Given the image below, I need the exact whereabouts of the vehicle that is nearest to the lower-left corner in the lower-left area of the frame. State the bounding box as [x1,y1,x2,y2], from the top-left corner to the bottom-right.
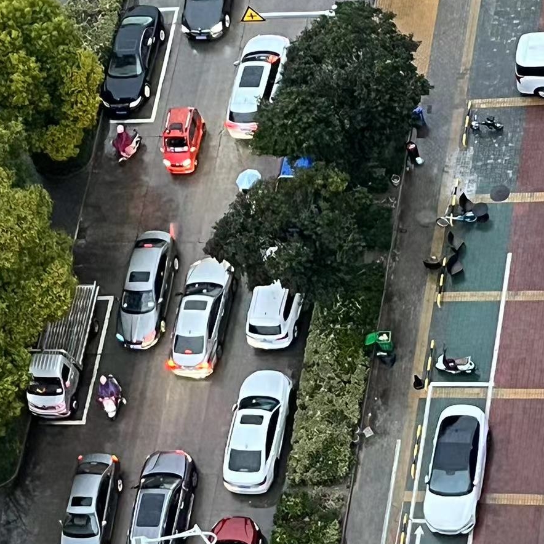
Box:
[54,455,126,544]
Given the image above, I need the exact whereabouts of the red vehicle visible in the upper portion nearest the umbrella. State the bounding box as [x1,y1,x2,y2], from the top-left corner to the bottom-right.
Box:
[157,100,209,185]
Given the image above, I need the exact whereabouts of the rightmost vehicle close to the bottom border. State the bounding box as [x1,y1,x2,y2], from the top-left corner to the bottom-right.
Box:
[420,410,490,535]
